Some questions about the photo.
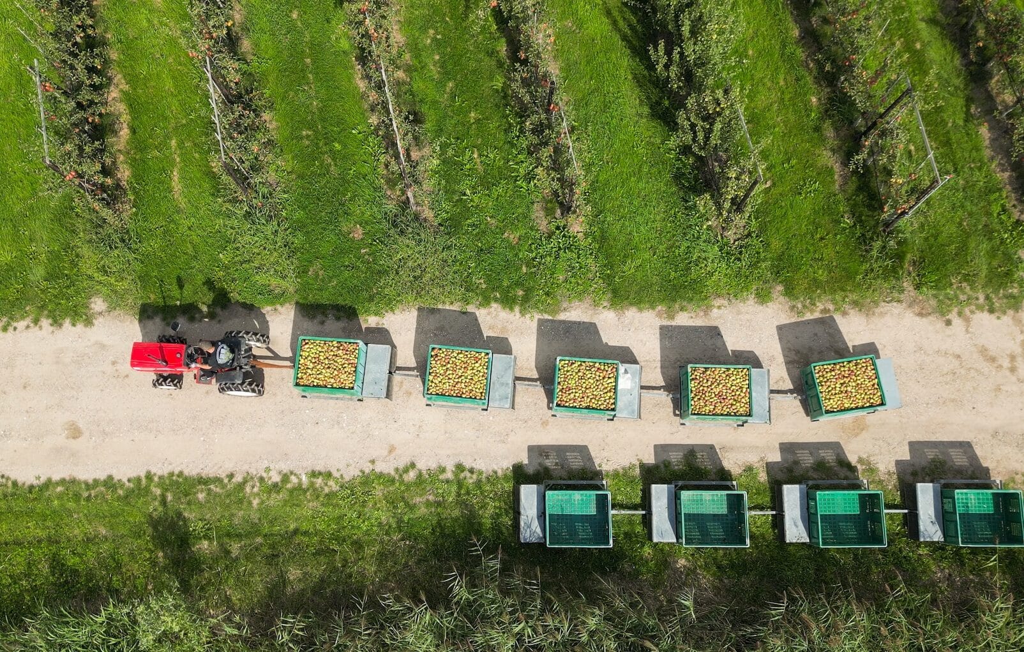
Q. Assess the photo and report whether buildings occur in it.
No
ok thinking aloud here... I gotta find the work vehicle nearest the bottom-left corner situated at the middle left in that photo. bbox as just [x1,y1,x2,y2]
[131,322,273,397]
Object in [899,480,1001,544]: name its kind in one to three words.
trailer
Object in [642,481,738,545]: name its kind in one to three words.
trailer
